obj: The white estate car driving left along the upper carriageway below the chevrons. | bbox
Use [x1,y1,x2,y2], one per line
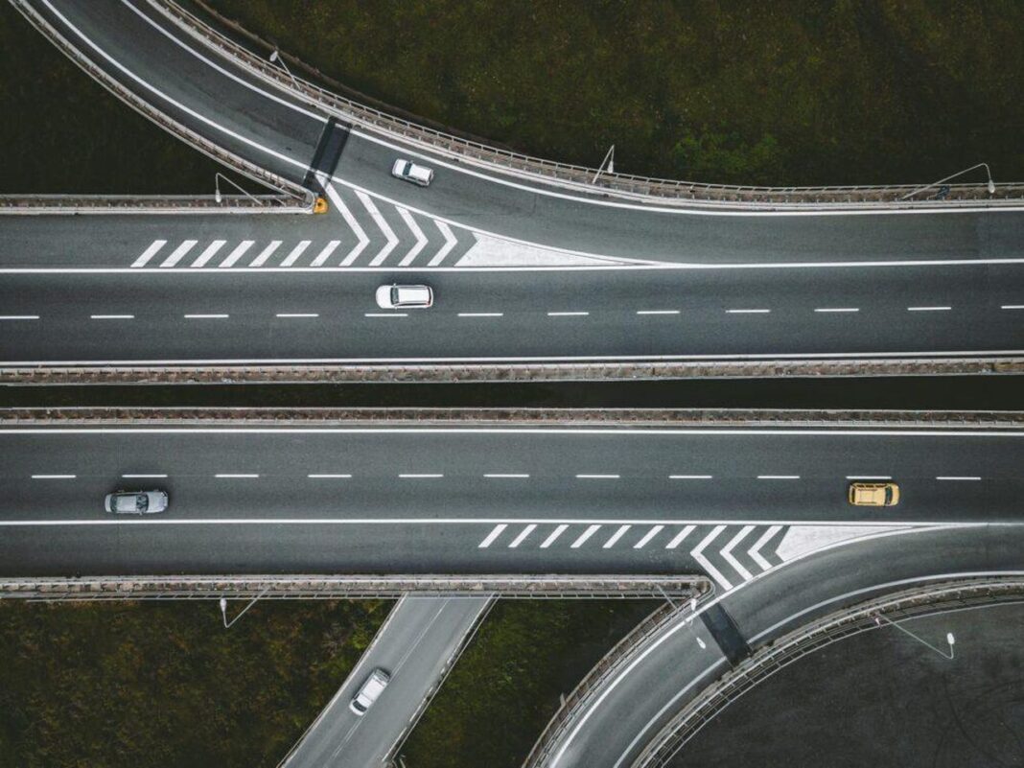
[376,282,433,311]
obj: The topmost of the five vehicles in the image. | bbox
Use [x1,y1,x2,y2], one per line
[390,157,438,189]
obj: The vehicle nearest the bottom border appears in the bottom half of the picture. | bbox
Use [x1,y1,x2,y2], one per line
[350,668,388,714]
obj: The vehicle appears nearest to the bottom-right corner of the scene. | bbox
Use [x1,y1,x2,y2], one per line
[846,481,897,509]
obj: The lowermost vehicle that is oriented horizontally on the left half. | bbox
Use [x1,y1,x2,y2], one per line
[106,489,169,518]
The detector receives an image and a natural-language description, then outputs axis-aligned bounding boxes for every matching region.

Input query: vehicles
[350,668,388,714]
[376,282,433,311]
[846,481,897,509]
[390,157,438,189]
[106,489,169,518]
